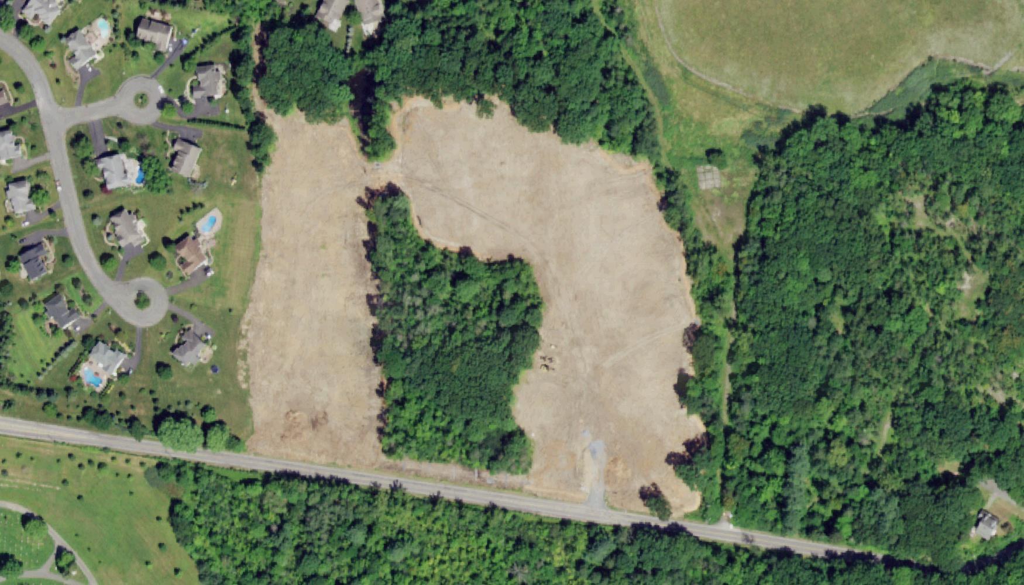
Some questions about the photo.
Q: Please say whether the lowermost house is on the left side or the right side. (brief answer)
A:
right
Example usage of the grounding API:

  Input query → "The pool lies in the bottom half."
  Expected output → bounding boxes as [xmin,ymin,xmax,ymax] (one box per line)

[83,368,103,387]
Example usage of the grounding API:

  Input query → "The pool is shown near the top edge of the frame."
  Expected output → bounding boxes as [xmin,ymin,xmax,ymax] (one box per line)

[97,18,110,39]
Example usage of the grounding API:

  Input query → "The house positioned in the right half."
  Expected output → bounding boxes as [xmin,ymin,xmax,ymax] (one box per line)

[973,508,1000,544]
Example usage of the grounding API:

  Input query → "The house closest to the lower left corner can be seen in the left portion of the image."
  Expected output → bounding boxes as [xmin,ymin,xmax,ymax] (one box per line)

[87,339,129,379]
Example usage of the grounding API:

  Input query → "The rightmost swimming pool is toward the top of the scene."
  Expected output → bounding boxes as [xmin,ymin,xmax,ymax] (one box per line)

[200,214,217,233]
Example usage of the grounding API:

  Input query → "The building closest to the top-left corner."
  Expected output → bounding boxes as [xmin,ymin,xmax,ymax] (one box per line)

[20,0,63,31]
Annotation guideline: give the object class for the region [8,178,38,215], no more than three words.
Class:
house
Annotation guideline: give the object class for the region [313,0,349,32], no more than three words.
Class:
house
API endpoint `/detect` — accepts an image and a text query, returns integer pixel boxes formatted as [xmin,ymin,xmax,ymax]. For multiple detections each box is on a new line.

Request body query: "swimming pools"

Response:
[97,18,110,39]
[136,164,145,184]
[83,368,103,387]
[200,214,217,233]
